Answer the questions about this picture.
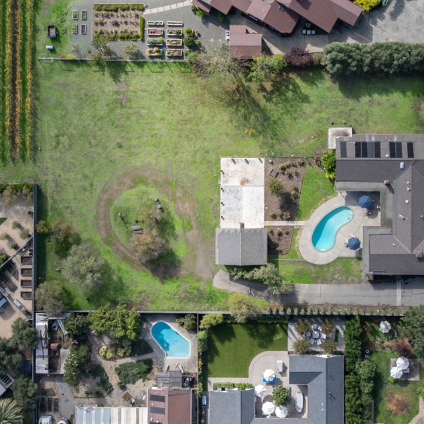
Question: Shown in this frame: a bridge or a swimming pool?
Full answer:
The image shows a swimming pool.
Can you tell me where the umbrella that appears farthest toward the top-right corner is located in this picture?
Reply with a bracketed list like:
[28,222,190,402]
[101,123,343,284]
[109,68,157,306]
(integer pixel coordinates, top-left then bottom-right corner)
[358,196,371,208]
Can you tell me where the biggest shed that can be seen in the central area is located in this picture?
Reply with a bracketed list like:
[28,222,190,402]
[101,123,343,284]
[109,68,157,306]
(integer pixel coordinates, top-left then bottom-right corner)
[216,226,267,266]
